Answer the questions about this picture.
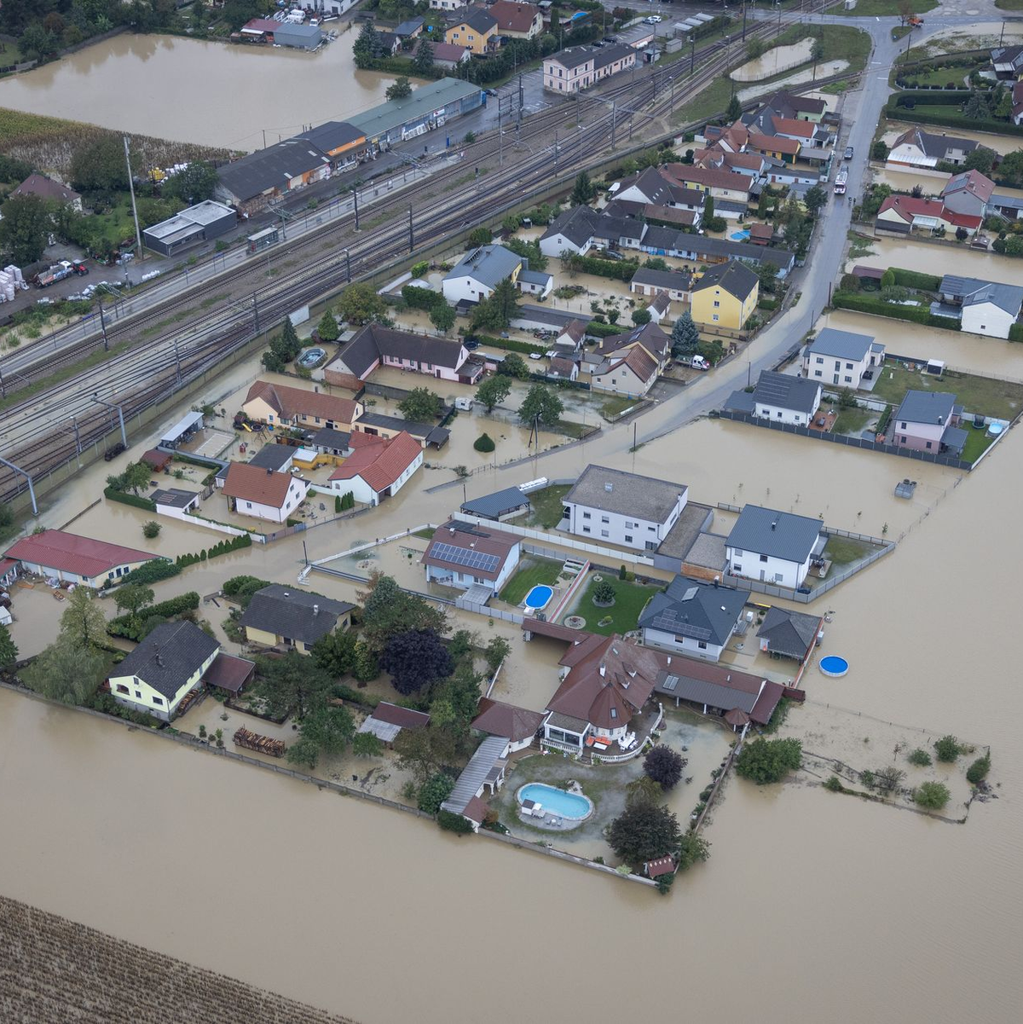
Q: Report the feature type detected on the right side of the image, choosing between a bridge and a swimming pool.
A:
swimming pool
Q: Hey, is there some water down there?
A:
Yes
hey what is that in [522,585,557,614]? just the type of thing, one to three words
swimming pool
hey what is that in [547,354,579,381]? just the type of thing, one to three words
house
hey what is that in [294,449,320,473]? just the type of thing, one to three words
building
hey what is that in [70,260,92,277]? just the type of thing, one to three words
work vehicle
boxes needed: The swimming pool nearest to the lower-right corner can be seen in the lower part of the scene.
[819,655,849,678]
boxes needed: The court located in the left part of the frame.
[198,425,247,463]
